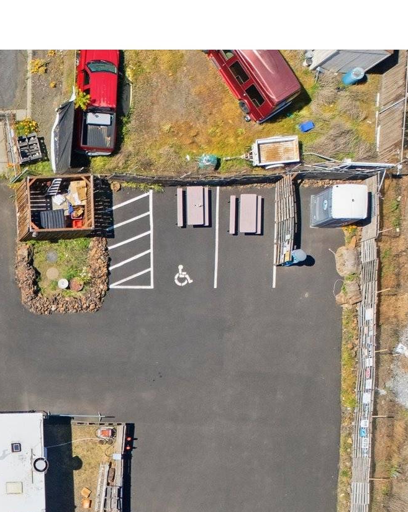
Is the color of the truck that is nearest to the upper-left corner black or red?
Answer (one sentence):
From above, the truck that is nearest to the upper-left corner appears red.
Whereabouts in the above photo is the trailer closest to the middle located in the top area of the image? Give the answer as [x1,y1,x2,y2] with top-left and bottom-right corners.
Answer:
[227,131,304,175]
